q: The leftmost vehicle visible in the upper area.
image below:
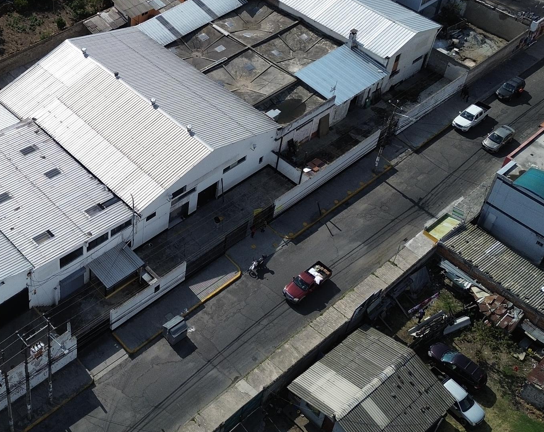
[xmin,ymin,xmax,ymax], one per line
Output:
[451,102,495,130]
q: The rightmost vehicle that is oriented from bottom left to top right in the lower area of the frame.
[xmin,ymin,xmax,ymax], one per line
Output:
[283,261,335,304]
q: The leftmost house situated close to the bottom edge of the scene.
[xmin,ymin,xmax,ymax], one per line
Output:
[287,325,455,432]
